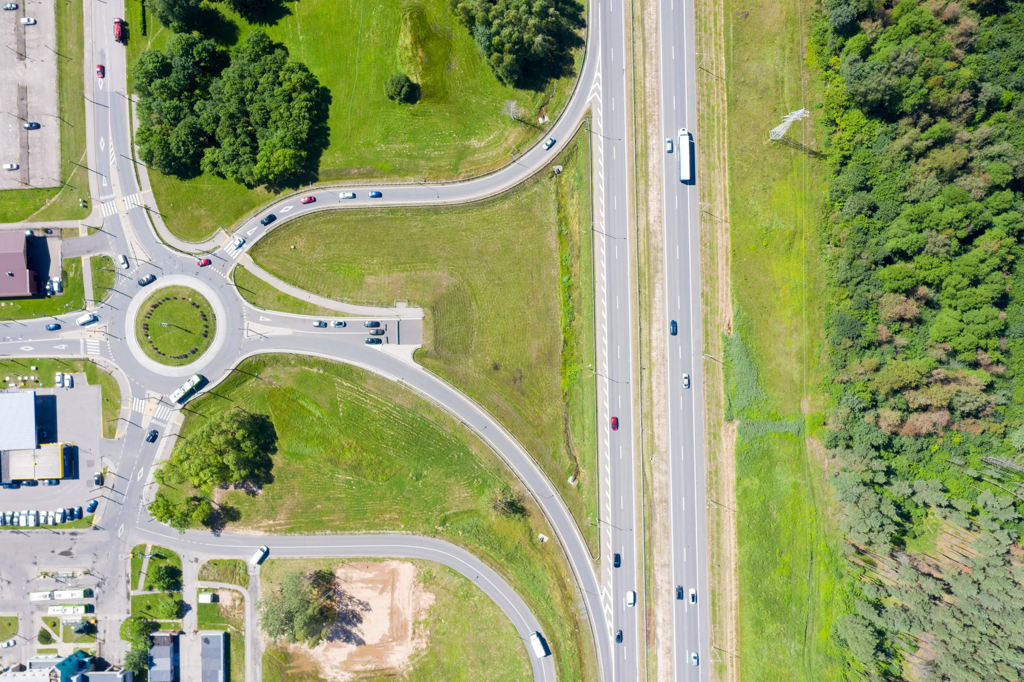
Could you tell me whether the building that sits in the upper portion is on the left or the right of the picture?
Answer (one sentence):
You can find the building that sits in the upper portion on the left side of the picture.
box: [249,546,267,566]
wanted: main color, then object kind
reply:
white vehicle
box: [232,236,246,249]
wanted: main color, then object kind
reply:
white vehicle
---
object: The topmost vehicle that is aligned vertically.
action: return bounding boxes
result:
[110,16,122,44]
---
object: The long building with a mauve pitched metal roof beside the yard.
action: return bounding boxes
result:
[0,230,47,295]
